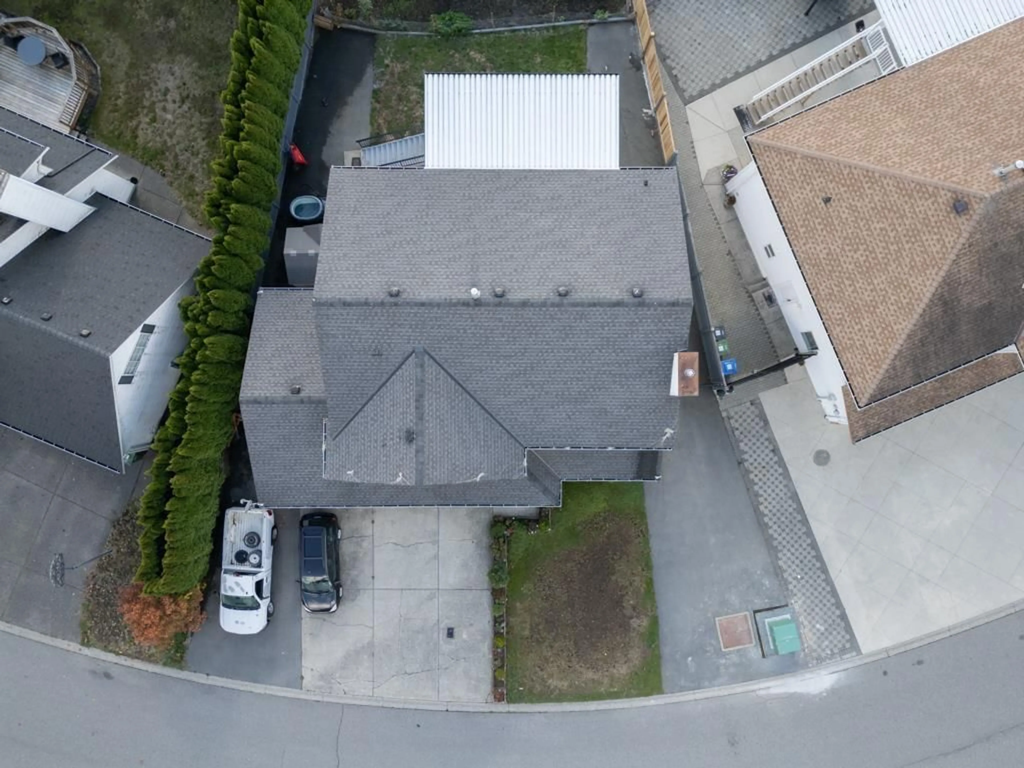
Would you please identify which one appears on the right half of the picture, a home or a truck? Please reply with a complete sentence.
There is a home on the right half of the picture.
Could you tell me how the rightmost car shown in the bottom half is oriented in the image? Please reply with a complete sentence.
In this picture, the rightmost car shown in the bottom half is oriented up and down.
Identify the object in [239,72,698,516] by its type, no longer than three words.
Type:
house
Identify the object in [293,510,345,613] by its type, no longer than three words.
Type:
car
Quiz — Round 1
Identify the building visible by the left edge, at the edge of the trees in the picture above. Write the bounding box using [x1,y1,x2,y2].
[0,103,217,475]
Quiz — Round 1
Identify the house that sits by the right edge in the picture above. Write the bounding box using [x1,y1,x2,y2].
[727,0,1024,446]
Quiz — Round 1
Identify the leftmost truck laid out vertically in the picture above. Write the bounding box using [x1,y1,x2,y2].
[219,500,279,635]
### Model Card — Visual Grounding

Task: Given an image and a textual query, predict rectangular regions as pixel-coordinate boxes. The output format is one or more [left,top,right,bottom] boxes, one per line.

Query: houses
[0,103,217,475]
[239,72,698,516]
[727,0,1024,446]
